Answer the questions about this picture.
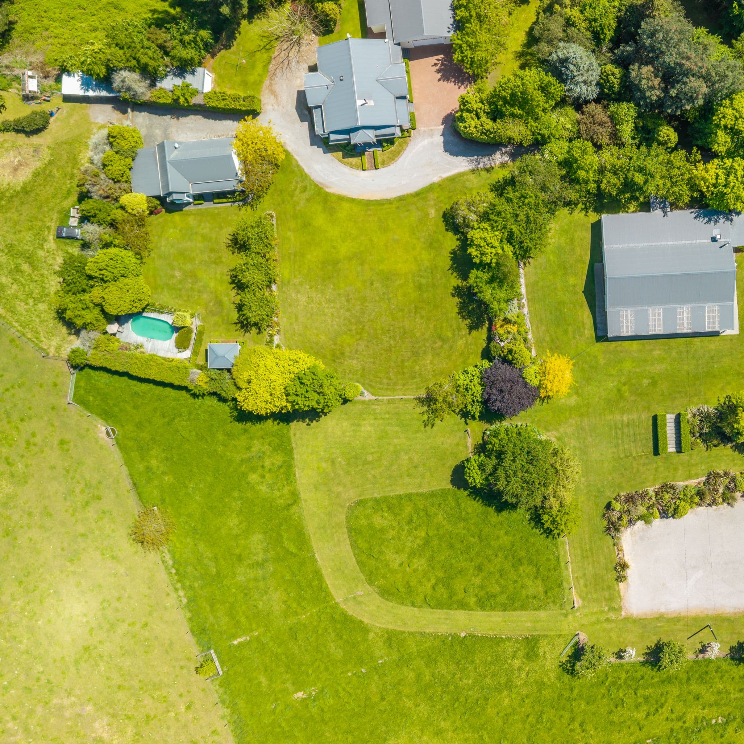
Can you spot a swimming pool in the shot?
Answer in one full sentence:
Yes, there's a swimming pool here.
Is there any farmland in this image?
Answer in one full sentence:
Yes, some farmland is visible.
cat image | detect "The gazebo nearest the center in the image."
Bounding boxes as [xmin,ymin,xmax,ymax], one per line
[207,340,243,369]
